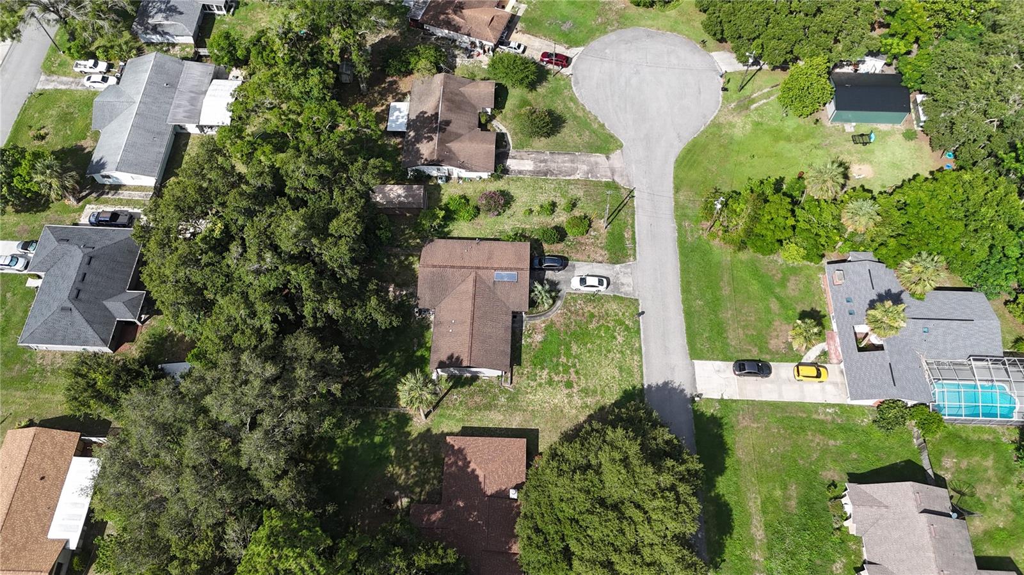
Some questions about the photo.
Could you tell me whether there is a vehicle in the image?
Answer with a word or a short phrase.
Yes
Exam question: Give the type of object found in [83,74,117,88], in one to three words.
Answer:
car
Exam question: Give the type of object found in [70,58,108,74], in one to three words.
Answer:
vehicle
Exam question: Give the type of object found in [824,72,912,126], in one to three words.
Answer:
building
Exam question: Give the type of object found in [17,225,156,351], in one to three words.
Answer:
house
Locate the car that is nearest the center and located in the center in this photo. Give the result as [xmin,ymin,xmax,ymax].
[532,254,568,271]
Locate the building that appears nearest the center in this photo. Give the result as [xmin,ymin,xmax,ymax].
[417,237,530,377]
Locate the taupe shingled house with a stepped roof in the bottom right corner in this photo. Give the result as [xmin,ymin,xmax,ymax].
[830,482,983,575]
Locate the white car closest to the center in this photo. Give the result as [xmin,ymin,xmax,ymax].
[571,274,608,291]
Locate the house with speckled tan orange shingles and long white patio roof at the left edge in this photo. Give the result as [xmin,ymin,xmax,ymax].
[0,427,106,575]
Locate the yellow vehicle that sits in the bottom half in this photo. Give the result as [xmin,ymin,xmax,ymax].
[792,363,829,381]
